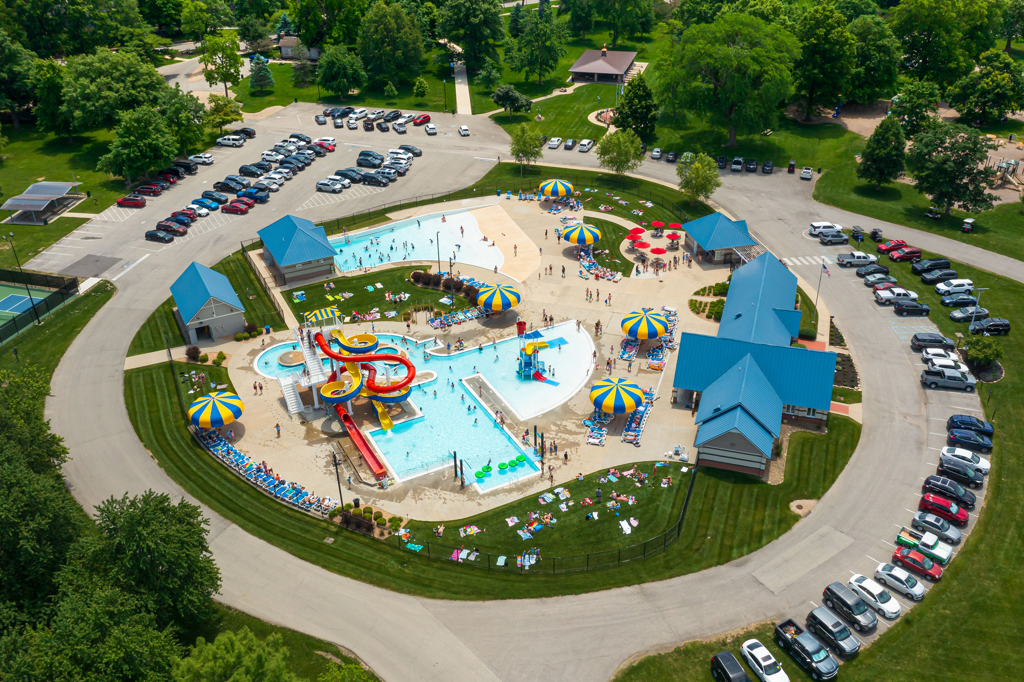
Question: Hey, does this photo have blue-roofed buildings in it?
Yes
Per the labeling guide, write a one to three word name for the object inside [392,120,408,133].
vehicle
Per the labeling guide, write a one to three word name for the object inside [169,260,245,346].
building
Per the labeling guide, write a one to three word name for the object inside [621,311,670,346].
umbrella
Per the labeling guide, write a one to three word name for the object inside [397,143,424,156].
vehicle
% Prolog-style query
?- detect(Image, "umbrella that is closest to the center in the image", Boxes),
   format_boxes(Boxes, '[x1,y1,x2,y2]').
[476,285,522,318]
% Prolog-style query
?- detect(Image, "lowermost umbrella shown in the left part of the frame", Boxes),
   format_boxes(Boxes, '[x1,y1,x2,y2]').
[187,394,245,432]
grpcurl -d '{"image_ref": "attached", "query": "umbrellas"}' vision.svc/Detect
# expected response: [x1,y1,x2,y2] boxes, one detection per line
[666,222,683,233]
[663,233,682,242]
[624,234,643,242]
[632,241,652,254]
[649,247,668,256]
[649,220,666,231]
[539,179,574,204]
[476,285,522,318]
[187,394,245,432]
[562,225,602,251]
[628,227,647,235]
[621,311,670,346]
[589,379,645,419]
